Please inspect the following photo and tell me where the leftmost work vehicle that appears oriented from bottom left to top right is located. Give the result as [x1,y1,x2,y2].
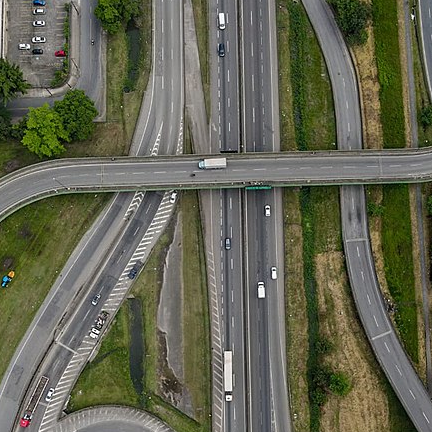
[2,269,17,287]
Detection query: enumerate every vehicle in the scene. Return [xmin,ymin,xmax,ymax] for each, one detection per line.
[46,387,55,402]
[2,269,17,287]
[31,48,45,55]
[225,237,230,250]
[271,267,277,280]
[219,11,225,30]
[219,43,225,58]
[223,351,233,400]
[266,204,271,218]
[258,282,264,298]
[86,309,111,338]
[91,294,102,305]
[18,44,31,50]
[32,36,47,43]
[33,0,47,6]
[33,8,47,15]
[20,374,51,424]
[55,51,67,57]
[32,20,47,27]
[169,190,179,204]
